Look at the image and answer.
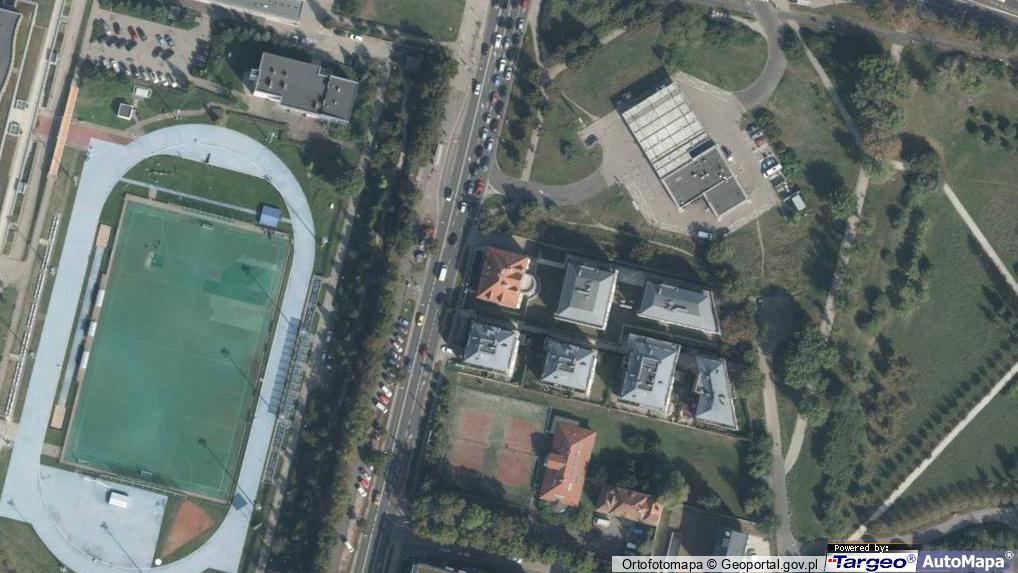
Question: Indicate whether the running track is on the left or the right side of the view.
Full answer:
The running track is on the left side of the image.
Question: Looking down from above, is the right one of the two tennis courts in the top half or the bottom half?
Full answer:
It is in the bottom half that the right one of the two tennis courts appears.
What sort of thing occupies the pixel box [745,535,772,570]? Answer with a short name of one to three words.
building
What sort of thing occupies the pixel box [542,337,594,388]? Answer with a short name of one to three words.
house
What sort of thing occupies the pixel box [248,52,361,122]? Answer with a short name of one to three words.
building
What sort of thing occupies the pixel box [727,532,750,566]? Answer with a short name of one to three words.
shed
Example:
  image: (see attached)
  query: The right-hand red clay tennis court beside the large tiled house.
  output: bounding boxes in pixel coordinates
[497,418,537,483]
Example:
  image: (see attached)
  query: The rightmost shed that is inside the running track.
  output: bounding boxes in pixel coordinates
[260,206,281,228]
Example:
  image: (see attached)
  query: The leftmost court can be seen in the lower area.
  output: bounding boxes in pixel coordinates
[451,410,491,470]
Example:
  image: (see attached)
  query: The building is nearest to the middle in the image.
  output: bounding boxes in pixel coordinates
[477,248,549,310]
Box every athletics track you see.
[0,123,315,573]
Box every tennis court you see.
[497,418,537,483]
[451,410,491,470]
